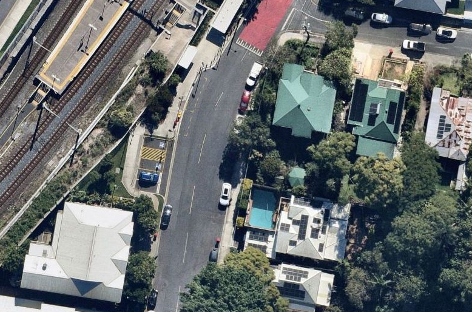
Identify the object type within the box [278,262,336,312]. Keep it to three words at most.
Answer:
house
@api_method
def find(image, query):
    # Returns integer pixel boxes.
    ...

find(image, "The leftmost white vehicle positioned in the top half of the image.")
[246,59,265,87]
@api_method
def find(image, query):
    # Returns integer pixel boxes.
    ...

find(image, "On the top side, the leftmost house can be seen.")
[273,61,337,139]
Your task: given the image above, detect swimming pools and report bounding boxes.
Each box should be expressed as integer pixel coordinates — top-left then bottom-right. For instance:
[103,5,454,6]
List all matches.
[248,188,278,231]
